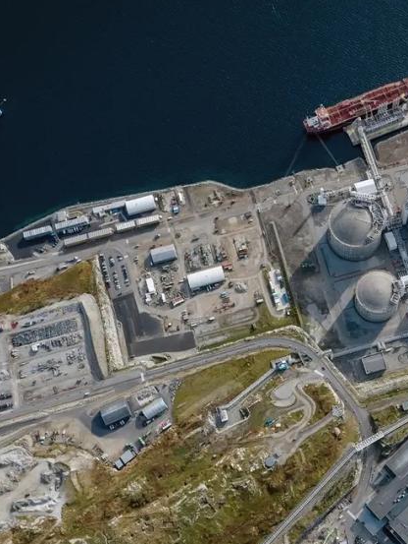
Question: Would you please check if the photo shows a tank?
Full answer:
Yes, the frame does contain a tank.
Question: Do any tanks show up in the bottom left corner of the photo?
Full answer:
No, I see no tank in the bottom left corner of the photo.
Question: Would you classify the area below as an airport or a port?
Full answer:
The area seen from above is a port.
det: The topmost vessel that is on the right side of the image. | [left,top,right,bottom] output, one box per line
[301,79,408,136]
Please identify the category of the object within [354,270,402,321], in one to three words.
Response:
storage tank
